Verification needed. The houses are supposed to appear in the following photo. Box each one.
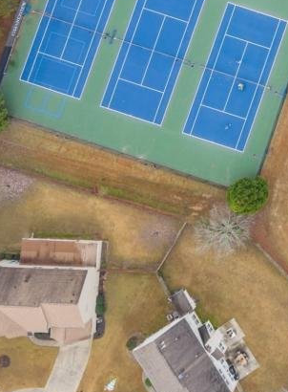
[133,314,238,392]
[0,236,104,343]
